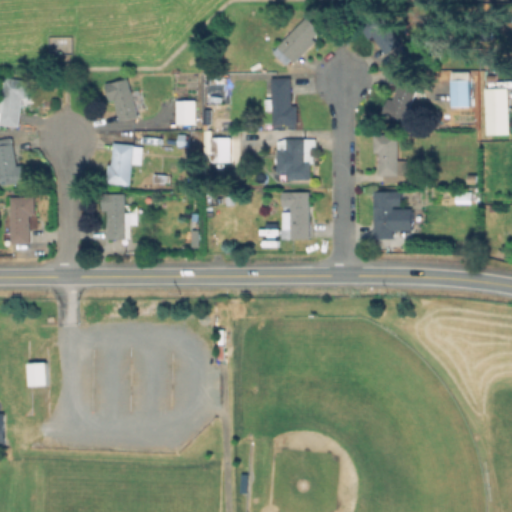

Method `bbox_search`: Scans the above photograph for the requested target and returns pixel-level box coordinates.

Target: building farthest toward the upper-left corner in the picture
[0,79,28,127]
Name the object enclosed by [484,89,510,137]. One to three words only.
barn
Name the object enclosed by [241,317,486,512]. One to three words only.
baseball field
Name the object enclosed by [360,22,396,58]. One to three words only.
house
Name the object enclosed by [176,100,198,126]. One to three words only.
building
